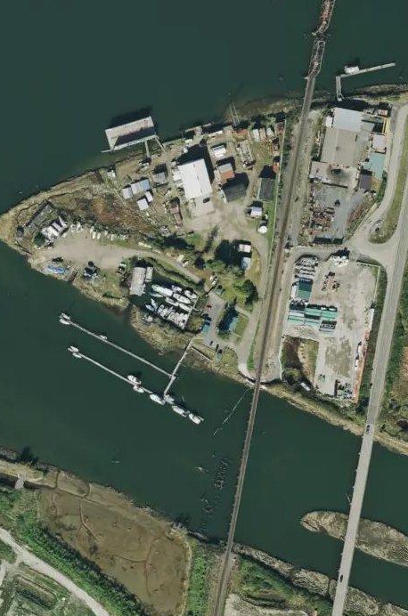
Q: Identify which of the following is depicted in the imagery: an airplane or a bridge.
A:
bridge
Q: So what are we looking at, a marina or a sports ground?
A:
marina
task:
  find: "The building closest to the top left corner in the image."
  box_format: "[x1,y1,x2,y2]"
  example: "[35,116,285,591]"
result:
[104,117,159,151]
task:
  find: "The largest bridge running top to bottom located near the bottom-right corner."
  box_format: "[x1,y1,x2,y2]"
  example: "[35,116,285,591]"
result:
[332,429,375,615]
